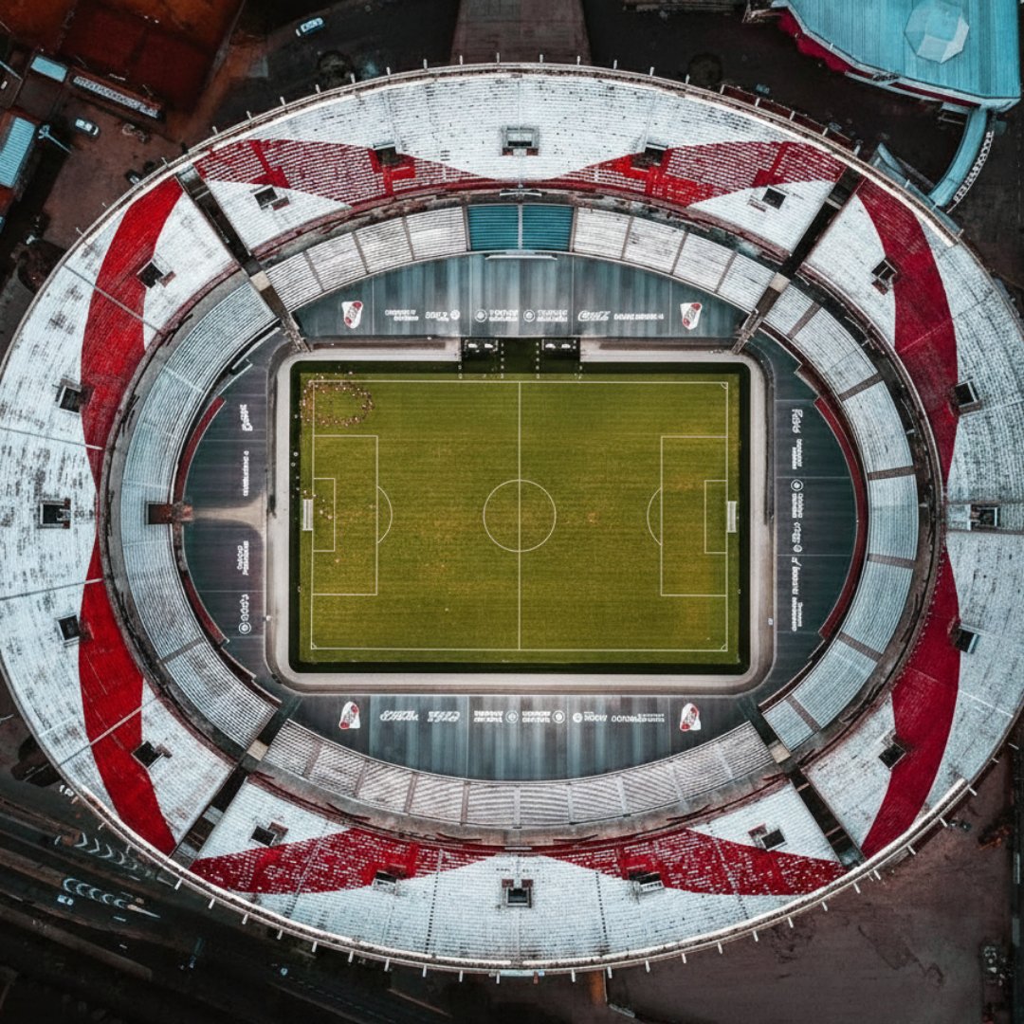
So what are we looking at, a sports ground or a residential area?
sports ground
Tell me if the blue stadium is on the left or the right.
right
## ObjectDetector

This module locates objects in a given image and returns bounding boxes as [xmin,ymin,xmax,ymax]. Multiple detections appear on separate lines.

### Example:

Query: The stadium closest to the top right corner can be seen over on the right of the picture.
[760,0,1022,119]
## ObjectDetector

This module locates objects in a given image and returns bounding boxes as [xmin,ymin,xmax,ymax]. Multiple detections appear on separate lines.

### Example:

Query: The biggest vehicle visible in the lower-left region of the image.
[56,895,73,907]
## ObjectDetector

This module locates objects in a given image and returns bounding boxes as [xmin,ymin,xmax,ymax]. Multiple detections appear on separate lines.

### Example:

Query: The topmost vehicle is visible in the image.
[295,15,323,35]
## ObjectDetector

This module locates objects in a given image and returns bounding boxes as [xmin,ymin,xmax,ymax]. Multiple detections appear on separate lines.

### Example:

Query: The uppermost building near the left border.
[31,57,73,89]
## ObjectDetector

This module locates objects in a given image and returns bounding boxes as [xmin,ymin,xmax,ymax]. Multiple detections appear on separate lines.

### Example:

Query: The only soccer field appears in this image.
[290,338,751,673]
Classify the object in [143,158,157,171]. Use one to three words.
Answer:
vehicle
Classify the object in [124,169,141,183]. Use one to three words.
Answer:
car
